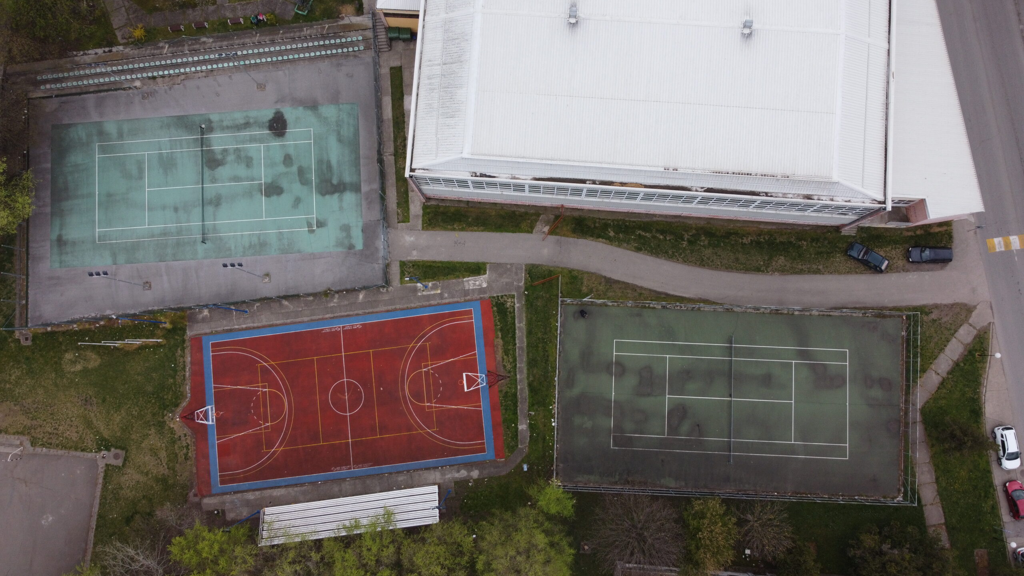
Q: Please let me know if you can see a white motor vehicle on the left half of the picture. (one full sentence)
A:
No, no white motor vehicle can be made out on the left half of the picture.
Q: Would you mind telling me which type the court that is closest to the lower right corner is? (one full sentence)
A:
What you see as the court that is closest to the lower right corner is a tennis court.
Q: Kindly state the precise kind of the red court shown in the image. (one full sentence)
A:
The red court appears to be a basketball court.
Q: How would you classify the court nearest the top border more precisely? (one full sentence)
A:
The court nearest the top border in the image is a tennis court.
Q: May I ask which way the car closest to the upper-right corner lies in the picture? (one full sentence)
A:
I'd say the car closest to the upper-right corner is aligned from left to right in the picture.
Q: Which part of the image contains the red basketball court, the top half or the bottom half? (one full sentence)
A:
You can find the red basketball court in the bottom half.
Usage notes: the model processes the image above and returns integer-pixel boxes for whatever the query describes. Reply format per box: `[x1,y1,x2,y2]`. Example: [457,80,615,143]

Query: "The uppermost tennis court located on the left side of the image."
[28,51,390,328]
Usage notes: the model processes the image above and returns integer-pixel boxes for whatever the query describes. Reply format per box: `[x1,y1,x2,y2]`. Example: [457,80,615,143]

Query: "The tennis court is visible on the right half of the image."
[555,303,901,497]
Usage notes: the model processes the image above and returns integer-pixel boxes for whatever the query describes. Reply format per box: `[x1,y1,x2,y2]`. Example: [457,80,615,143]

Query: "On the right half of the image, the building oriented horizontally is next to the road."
[406,0,896,235]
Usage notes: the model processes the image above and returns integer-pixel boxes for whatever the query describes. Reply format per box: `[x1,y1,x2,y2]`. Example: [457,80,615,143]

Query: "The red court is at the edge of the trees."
[180,300,505,495]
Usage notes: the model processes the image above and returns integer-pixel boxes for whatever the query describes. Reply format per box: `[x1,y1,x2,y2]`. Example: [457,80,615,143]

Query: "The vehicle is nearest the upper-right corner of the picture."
[904,245,954,267]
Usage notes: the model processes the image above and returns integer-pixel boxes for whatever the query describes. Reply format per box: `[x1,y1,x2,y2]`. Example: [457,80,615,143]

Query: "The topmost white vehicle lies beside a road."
[990,423,1022,471]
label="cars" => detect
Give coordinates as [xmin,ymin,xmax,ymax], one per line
[1011,546,1024,576]
[904,245,954,267]
[843,241,891,276]
[990,423,1022,471]
[1001,478,1024,525]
